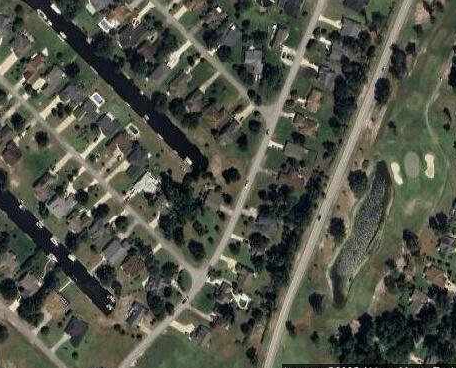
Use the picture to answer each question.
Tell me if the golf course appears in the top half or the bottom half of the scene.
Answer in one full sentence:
The golf course sits in the top half of the picture.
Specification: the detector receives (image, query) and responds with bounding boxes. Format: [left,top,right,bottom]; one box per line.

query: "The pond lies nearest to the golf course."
[332,159,391,307]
